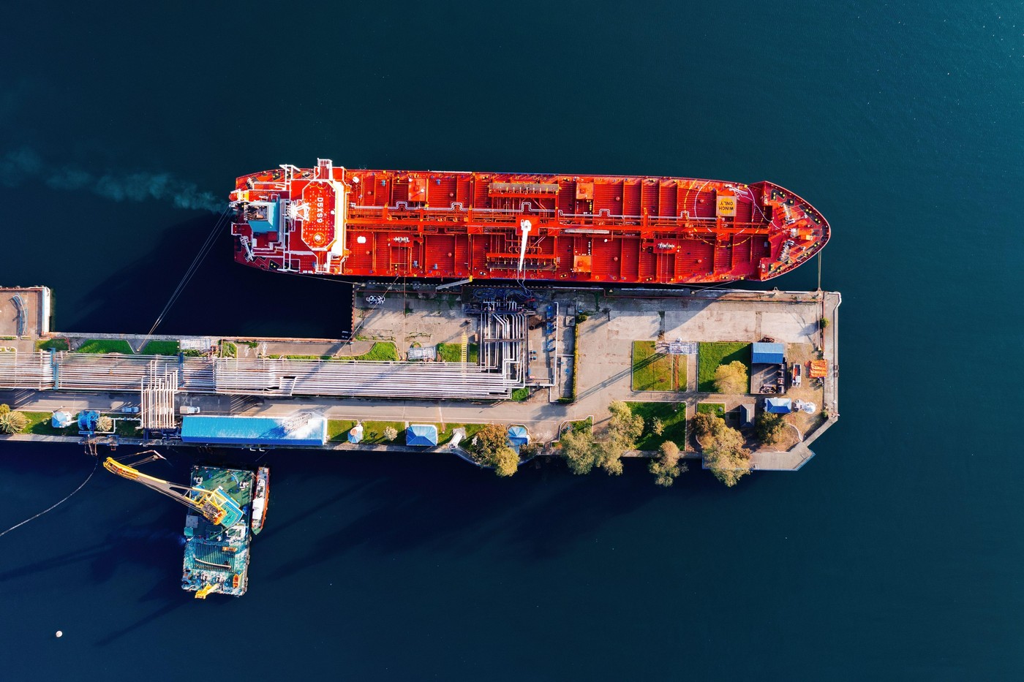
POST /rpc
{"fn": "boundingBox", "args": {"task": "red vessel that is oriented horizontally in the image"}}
[229,159,831,292]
